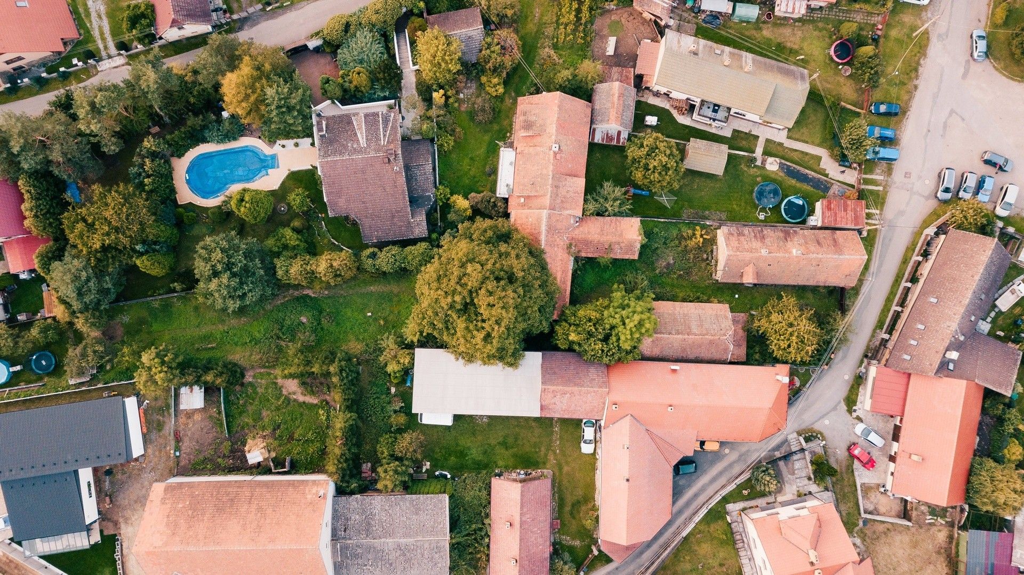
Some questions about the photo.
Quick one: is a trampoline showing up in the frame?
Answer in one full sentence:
Yes, you can see a trampoline in this photo.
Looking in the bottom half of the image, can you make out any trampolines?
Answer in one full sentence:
No, I can find no trampoline in the bottom half of the image.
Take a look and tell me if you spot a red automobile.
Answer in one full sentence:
Yes, the photo shows a red automobile.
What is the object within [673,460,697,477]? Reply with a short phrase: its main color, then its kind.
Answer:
blue car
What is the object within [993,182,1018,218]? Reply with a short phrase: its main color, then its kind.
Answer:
white car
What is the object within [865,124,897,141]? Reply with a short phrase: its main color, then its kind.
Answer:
blue car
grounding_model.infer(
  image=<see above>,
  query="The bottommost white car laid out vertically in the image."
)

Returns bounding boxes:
[580,419,596,453]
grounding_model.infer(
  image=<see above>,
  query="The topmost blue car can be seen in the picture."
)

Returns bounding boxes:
[868,100,900,117]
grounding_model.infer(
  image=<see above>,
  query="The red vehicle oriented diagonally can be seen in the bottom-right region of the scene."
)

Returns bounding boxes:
[845,443,876,470]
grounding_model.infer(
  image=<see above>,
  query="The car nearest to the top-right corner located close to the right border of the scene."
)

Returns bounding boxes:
[969,30,988,63]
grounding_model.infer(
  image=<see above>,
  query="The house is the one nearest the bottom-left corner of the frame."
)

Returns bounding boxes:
[0,467,99,542]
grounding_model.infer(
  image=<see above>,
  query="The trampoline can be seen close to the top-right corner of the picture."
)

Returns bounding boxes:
[827,38,859,62]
